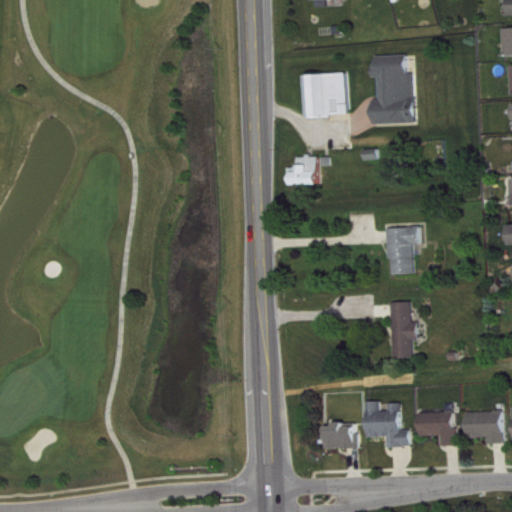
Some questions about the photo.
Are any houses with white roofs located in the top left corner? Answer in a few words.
No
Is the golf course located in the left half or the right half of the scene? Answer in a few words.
left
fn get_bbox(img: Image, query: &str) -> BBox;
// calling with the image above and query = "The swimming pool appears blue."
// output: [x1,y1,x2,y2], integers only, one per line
[490,64,505,78]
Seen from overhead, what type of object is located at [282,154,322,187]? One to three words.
house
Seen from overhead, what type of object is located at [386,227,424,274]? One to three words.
house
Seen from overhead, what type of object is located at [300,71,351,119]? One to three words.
building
